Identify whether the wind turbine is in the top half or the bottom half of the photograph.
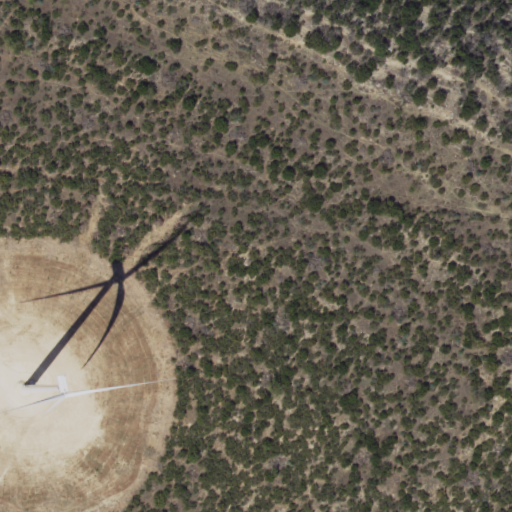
bottom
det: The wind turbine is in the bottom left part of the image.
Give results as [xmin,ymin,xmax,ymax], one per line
[0,374,164,409]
